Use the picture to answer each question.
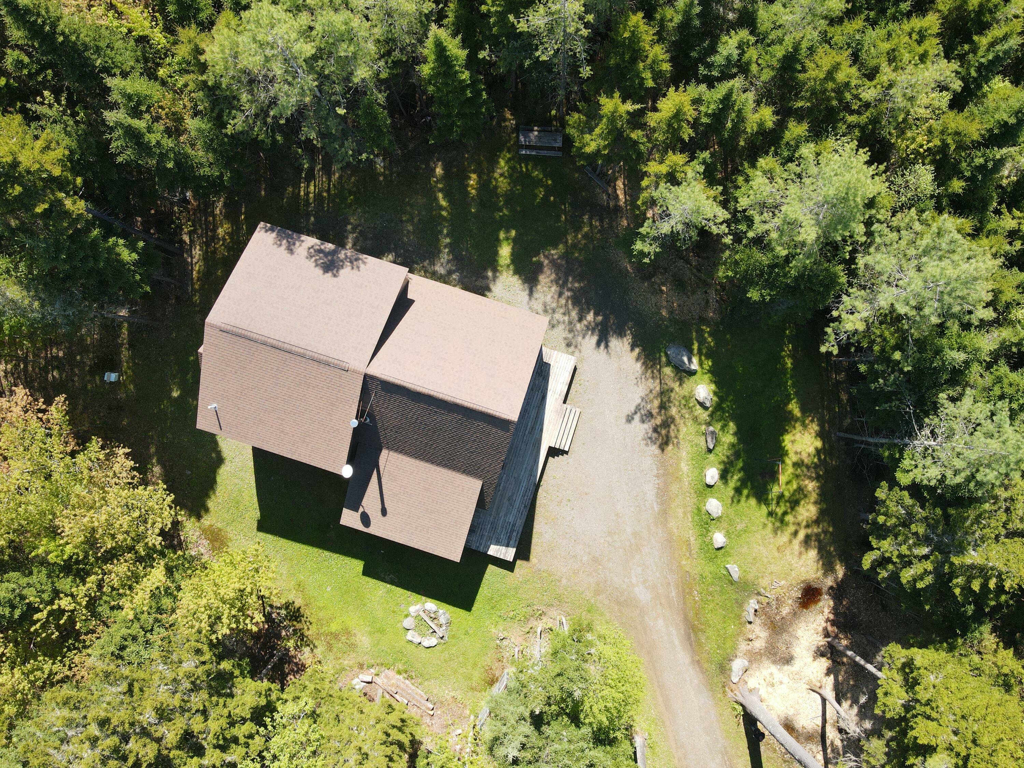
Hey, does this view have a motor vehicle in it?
No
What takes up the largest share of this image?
trees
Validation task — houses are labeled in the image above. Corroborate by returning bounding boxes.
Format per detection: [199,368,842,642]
[196,221,550,561]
